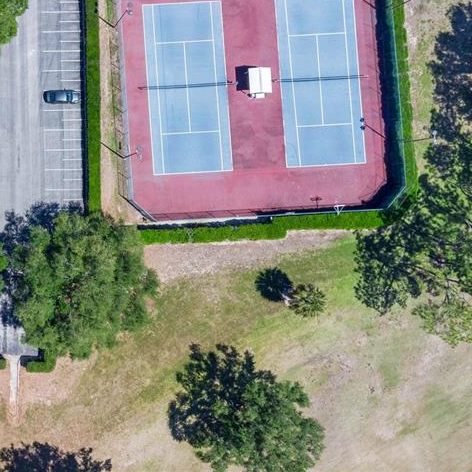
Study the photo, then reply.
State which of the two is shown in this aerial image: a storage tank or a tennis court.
tennis court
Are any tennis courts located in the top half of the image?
Yes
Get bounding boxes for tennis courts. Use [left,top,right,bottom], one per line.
[275,0,366,167]
[142,0,232,175]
